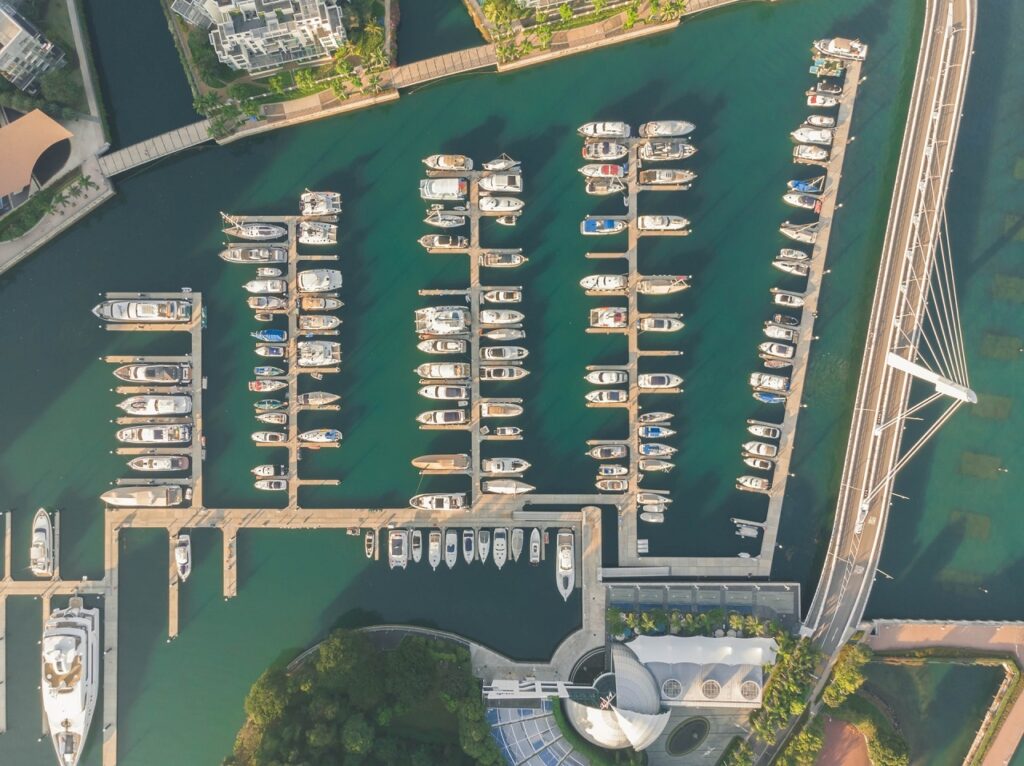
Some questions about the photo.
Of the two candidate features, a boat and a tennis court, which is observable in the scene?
boat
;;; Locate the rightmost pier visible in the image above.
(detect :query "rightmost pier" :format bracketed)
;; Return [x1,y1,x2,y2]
[730,60,862,557]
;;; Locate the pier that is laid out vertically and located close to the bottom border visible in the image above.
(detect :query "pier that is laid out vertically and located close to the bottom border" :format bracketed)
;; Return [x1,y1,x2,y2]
[0,511,105,735]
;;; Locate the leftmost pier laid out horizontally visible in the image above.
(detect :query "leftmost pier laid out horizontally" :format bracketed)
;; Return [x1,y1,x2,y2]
[105,493,637,766]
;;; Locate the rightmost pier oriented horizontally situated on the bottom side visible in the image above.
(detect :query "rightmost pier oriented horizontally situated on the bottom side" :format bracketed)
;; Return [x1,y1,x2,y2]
[603,557,773,577]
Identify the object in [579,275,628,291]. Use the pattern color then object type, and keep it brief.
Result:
white boat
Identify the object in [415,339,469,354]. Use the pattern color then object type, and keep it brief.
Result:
white boat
